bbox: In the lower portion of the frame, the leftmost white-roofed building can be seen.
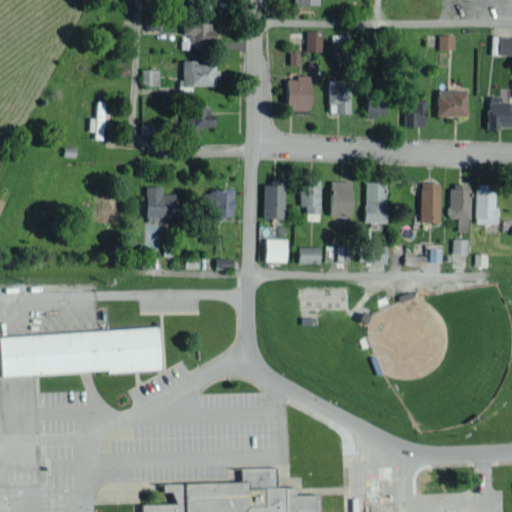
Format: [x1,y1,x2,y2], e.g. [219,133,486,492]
[0,327,162,378]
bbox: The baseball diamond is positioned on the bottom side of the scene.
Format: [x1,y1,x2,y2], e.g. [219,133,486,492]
[368,283,512,434]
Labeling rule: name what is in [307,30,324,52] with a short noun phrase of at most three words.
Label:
building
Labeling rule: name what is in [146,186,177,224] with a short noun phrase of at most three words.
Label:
house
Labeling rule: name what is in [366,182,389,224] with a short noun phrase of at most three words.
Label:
house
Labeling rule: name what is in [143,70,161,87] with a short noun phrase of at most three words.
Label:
building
